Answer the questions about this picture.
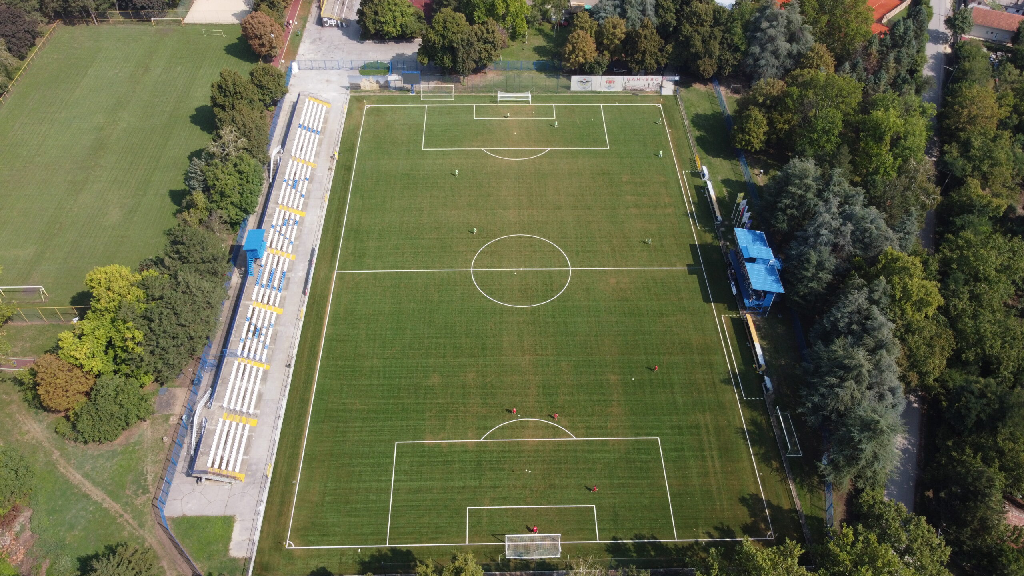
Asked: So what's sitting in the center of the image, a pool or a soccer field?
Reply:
soccer field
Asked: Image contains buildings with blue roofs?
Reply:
Yes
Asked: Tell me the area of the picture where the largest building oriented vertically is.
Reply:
left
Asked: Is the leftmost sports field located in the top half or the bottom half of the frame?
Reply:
top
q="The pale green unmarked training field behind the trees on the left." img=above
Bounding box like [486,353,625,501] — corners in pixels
[0,25,259,313]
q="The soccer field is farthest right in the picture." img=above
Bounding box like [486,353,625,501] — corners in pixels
[250,94,813,575]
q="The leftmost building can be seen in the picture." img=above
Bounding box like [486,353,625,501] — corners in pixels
[242,229,267,287]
